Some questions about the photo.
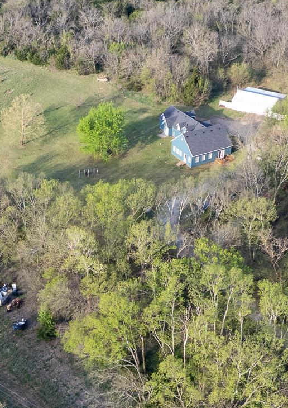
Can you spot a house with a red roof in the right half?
No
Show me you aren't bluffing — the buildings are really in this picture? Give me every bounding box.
[154,101,236,168]
[230,82,281,116]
